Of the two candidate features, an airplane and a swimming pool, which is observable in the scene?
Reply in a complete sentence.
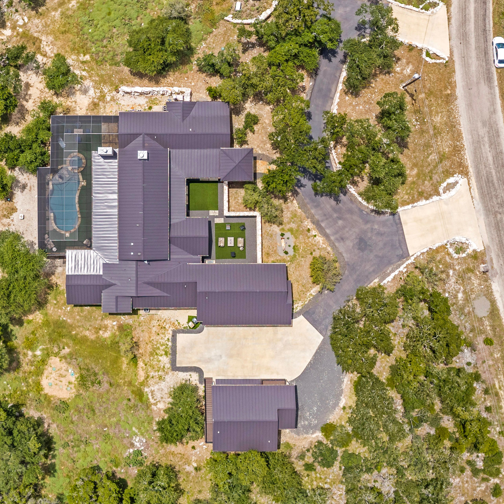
This aerial view contains a swimming pool.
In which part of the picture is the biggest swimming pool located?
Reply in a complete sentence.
You can find the biggest swimming pool in the left area of the picture.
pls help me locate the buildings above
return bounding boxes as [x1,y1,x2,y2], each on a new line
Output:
[65,101,292,325]
[205,376,296,452]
